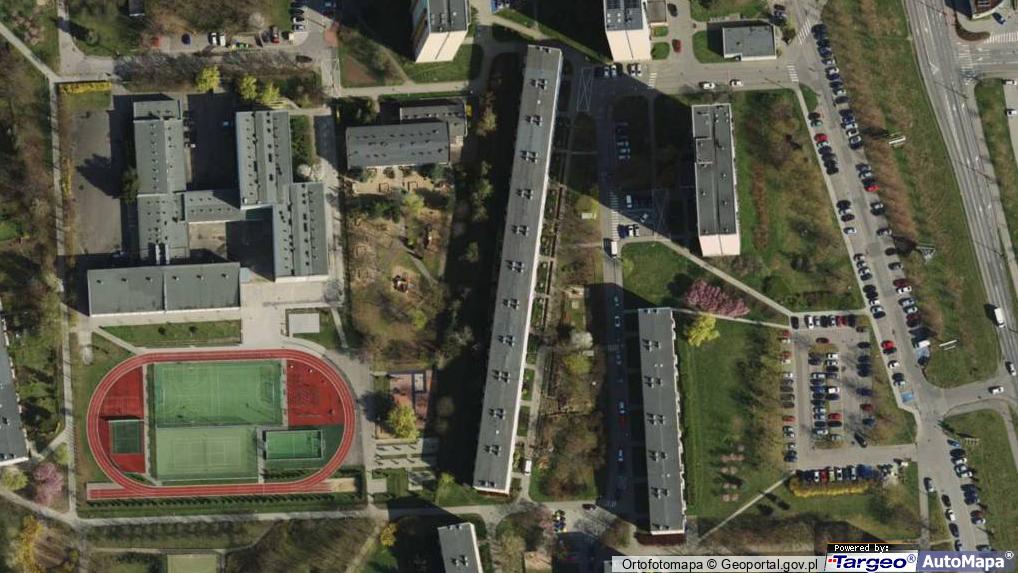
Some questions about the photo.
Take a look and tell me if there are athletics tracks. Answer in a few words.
Yes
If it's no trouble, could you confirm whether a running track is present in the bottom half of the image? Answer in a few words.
Yes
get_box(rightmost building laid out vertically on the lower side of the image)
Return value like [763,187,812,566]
[638,306,689,534]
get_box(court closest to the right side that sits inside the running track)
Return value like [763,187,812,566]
[265,429,325,461]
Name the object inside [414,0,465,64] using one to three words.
building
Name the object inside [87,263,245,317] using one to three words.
building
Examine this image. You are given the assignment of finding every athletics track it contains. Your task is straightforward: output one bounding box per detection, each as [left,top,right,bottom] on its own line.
[86,348,356,501]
